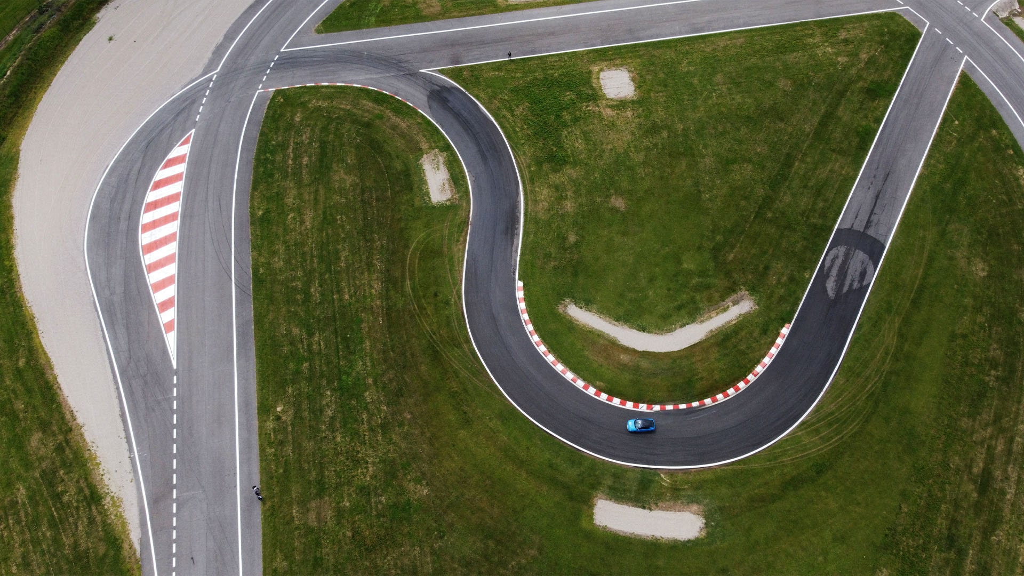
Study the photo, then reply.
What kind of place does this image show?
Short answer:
sports ground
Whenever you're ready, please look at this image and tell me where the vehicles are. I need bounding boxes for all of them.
[627,417,657,433]
[249,484,262,500]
